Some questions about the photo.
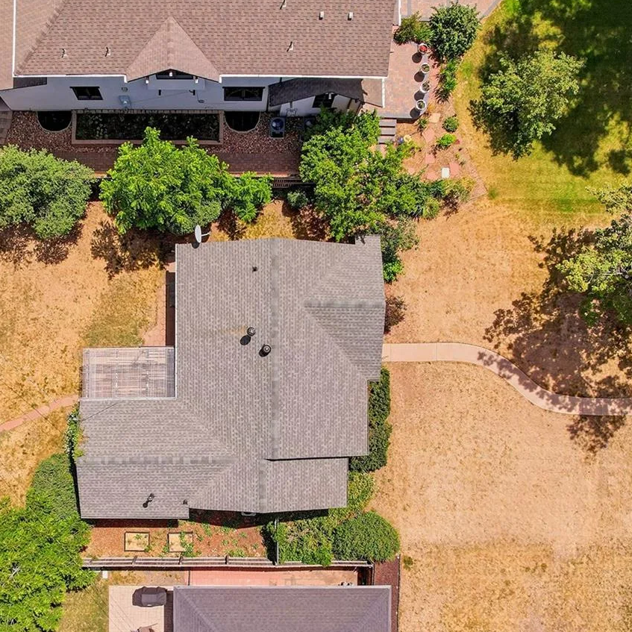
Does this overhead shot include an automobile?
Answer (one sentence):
No, no automobile is visible in the scene.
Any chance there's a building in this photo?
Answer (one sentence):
Yes, there's a building down there.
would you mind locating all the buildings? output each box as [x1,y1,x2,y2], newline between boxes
[0,0,403,117]
[77,236,385,520]
[170,583,392,632]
